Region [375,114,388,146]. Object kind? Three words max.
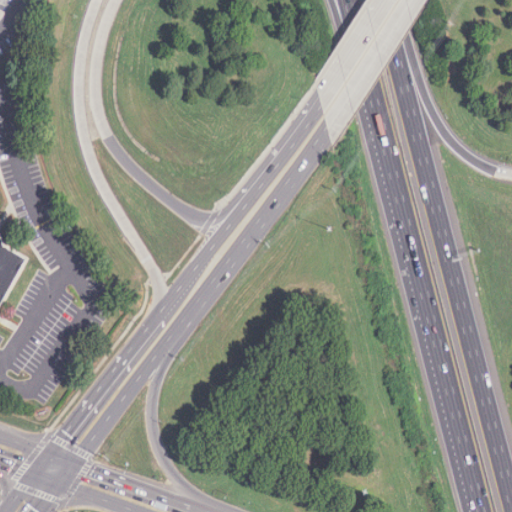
vehicle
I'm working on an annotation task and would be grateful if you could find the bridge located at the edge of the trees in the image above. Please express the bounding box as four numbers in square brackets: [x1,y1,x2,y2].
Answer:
[312,0,425,148]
